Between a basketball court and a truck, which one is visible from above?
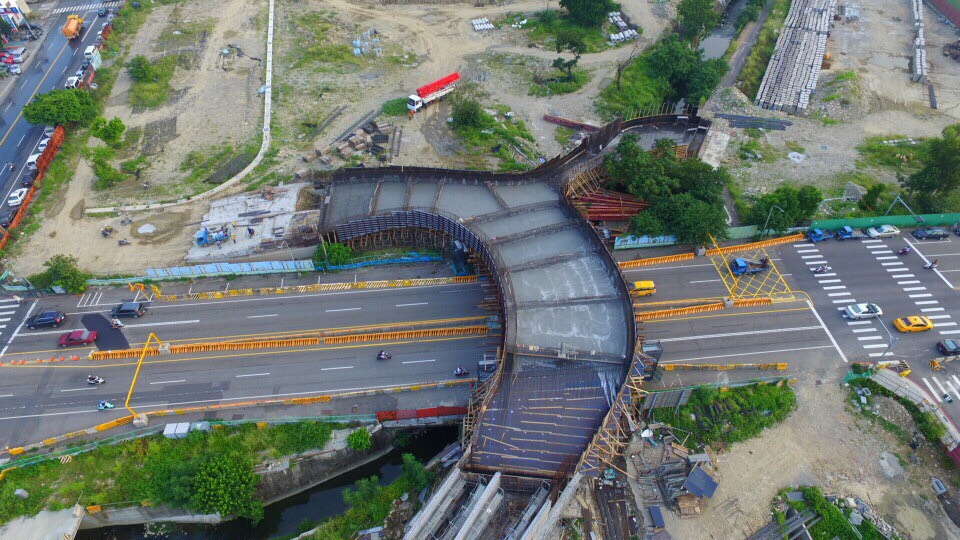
truck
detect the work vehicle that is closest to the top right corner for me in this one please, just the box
[818,46,837,68]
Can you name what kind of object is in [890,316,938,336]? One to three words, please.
car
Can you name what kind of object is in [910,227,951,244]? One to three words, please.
car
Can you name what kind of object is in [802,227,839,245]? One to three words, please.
vehicle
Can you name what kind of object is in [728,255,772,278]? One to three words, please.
truck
